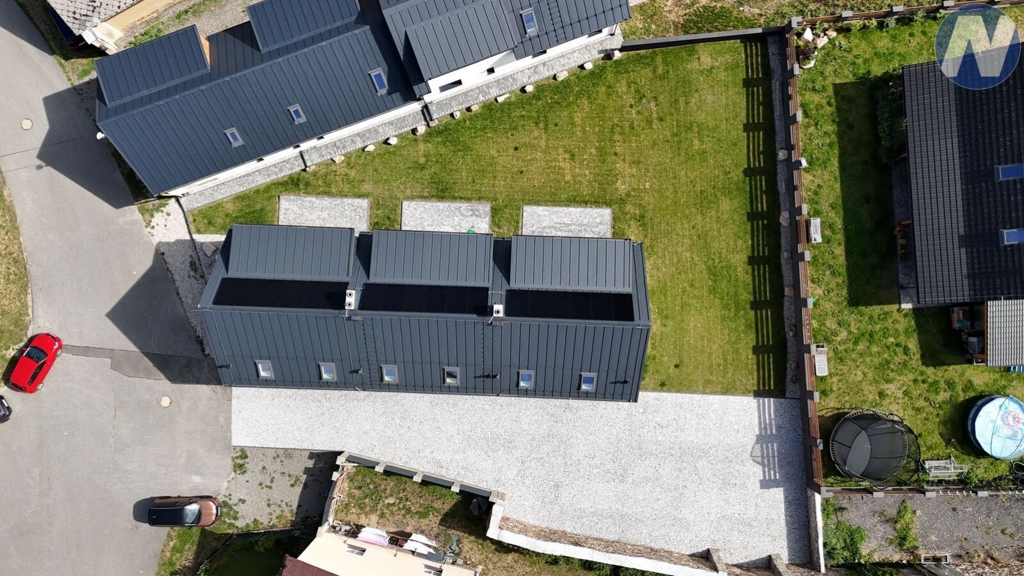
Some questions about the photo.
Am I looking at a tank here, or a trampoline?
trampoline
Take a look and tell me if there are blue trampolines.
No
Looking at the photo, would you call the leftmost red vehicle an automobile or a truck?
automobile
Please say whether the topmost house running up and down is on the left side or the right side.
right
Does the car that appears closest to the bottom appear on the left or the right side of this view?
left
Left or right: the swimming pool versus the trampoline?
to the right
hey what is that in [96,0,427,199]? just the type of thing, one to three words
house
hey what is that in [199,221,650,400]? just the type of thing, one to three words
house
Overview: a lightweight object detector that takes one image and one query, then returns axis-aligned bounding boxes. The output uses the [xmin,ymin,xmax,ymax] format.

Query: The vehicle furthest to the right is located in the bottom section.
[146,496,219,533]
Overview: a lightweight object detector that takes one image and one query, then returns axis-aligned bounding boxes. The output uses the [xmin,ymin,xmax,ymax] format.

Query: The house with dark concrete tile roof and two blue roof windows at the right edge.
[899,43,1024,304]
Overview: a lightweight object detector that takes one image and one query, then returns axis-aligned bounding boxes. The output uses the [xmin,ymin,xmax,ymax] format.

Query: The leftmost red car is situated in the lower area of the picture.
[9,331,67,397]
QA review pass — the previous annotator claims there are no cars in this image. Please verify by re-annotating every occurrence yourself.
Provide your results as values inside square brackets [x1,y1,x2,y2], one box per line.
[0,398,12,427]
[9,331,67,397]
[42,0,94,56]
[146,496,219,533]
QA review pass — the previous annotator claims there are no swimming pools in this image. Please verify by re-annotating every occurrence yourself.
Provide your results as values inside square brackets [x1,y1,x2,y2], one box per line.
[959,392,1024,460]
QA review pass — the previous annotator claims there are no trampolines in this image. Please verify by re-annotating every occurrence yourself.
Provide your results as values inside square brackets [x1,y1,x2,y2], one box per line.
[825,405,921,493]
